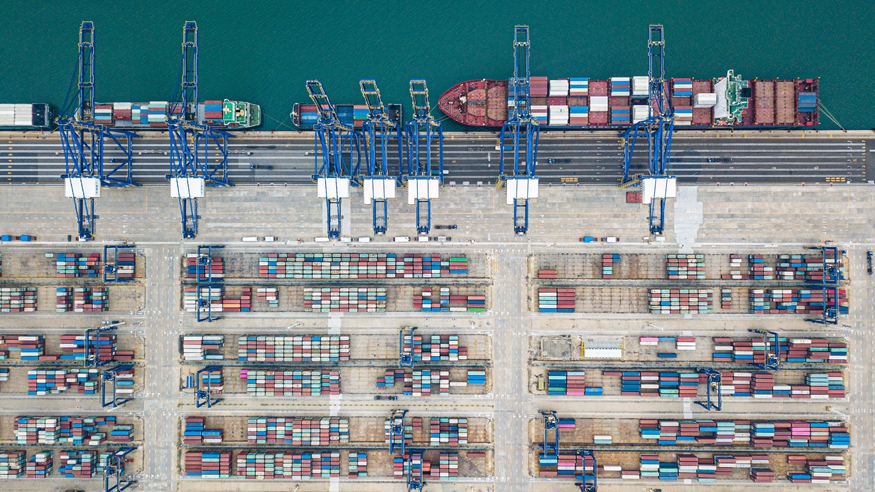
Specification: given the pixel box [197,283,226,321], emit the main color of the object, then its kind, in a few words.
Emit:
blue container crane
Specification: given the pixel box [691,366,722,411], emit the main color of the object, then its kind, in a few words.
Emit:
blue container crane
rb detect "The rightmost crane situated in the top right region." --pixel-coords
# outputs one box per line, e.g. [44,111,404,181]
[612,22,684,241]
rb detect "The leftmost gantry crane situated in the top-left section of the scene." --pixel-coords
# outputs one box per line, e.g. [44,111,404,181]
[51,22,144,241]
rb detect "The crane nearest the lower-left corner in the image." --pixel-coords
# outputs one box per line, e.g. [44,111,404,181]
[104,444,139,492]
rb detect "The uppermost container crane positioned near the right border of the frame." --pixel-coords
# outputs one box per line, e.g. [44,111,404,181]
[802,248,840,284]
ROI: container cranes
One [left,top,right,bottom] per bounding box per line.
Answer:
[745,328,780,369]
[537,403,560,457]
[802,284,839,322]
[402,74,449,241]
[197,283,226,321]
[303,74,363,241]
[389,402,408,453]
[102,247,137,282]
[197,247,226,282]
[490,22,545,241]
[101,366,135,407]
[161,22,238,241]
[406,441,426,490]
[573,443,597,492]
[691,366,722,411]
[104,444,139,492]
[357,74,404,241]
[51,22,144,241]
[196,361,225,406]
[612,22,684,241]
[802,248,840,284]
[398,324,418,366]
[85,326,120,366]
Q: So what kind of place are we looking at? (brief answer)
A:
port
